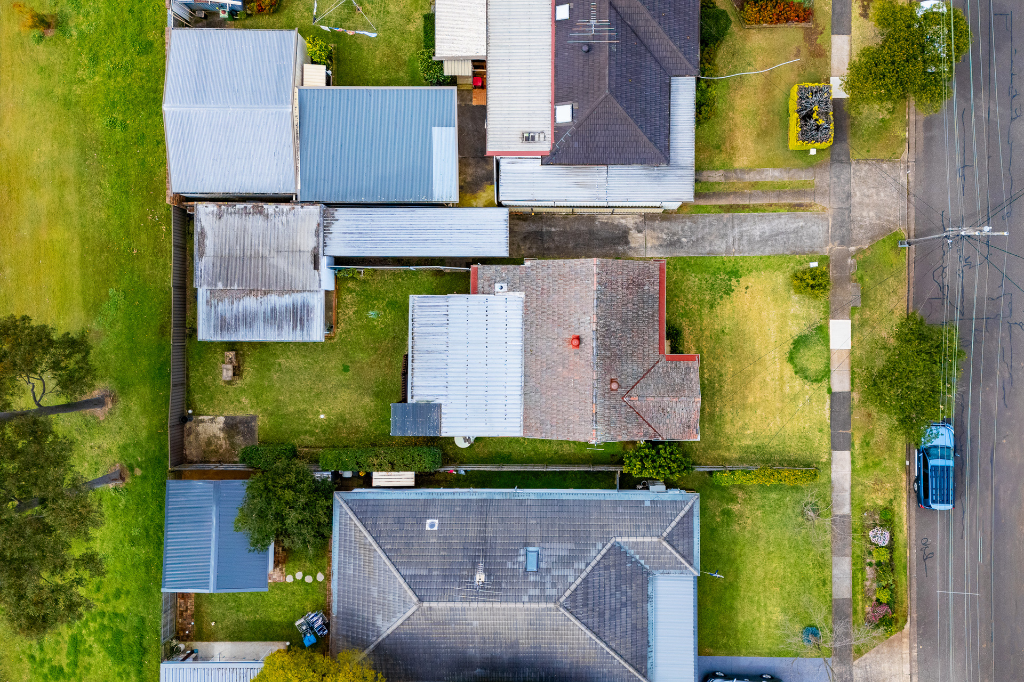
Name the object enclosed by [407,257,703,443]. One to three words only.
house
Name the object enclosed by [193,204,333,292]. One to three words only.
building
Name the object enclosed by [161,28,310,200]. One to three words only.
shed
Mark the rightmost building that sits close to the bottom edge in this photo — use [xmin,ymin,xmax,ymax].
[332,486,700,682]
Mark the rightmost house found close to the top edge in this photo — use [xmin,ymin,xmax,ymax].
[485,0,701,204]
